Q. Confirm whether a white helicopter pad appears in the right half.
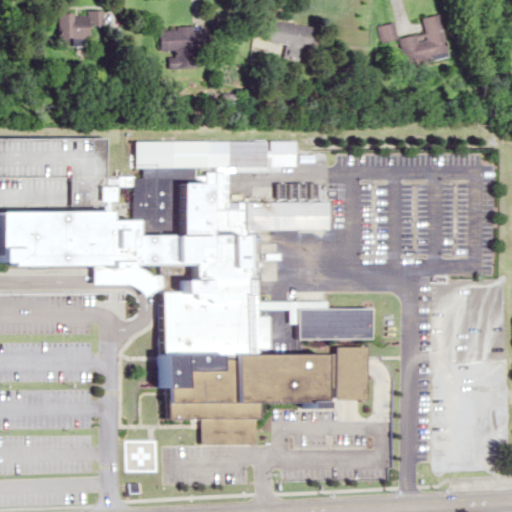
No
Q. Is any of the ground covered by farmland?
No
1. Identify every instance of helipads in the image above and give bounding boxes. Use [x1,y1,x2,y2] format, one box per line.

[122,438,158,474]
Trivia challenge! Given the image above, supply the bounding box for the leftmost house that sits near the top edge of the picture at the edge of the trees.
[58,11,103,46]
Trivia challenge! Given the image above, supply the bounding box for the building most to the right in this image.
[400,14,450,64]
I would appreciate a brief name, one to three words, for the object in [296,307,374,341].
building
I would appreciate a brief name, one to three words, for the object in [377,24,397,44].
building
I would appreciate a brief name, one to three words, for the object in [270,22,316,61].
house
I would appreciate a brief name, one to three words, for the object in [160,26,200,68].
house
